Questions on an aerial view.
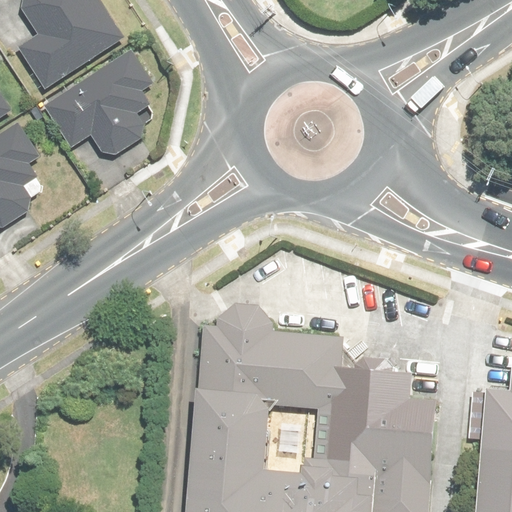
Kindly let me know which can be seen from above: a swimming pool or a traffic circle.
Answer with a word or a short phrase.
traffic circle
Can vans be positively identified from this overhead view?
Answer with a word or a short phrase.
Yes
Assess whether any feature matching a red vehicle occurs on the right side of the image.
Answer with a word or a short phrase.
Yes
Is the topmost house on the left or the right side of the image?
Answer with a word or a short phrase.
left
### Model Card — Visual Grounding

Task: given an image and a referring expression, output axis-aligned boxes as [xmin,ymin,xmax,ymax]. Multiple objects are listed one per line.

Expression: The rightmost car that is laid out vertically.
[383,290,398,322]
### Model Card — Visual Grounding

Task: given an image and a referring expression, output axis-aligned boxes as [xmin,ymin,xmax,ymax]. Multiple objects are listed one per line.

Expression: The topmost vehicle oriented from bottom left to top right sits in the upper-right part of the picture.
[449,47,480,74]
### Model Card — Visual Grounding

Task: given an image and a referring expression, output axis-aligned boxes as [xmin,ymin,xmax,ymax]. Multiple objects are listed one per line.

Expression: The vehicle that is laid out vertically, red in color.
[362,284,377,311]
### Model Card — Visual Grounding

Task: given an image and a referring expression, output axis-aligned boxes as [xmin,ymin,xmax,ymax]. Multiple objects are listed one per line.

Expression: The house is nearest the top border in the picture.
[18,0,124,90]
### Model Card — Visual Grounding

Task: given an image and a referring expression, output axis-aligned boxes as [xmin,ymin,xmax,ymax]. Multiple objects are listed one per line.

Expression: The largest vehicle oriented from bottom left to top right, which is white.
[402,76,445,118]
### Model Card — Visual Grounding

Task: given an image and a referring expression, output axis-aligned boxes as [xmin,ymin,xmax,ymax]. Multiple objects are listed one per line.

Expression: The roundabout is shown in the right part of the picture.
[264,82,364,182]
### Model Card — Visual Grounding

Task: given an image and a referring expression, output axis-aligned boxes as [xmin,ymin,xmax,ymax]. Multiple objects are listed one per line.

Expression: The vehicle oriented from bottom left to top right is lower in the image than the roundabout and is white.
[254,258,284,282]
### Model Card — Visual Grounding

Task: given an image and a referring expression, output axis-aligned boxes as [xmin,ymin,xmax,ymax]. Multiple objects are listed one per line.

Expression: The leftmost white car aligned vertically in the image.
[344,276,359,308]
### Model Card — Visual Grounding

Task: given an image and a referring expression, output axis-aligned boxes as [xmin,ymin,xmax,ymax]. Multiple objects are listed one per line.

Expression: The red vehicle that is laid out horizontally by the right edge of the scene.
[463,256,494,272]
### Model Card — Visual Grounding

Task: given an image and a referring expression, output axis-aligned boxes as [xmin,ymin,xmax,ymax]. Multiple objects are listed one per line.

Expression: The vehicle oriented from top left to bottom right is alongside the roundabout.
[330,66,364,96]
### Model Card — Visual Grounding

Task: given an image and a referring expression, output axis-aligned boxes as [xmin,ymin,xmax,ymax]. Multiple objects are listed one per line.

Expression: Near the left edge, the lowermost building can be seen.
[0,122,44,227]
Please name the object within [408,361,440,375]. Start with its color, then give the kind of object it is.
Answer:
white car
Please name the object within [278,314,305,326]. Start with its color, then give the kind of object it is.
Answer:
white vehicle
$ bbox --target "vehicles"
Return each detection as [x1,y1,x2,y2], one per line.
[490,336,512,350]
[310,317,338,331]
[481,208,512,228]
[408,361,440,375]
[362,284,377,311]
[463,256,494,272]
[449,47,480,74]
[486,370,512,383]
[403,301,432,318]
[383,290,398,322]
[344,276,359,308]
[278,314,305,326]
[330,66,364,96]
[254,258,284,282]
[412,379,438,392]
[484,354,512,368]
[402,76,445,118]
